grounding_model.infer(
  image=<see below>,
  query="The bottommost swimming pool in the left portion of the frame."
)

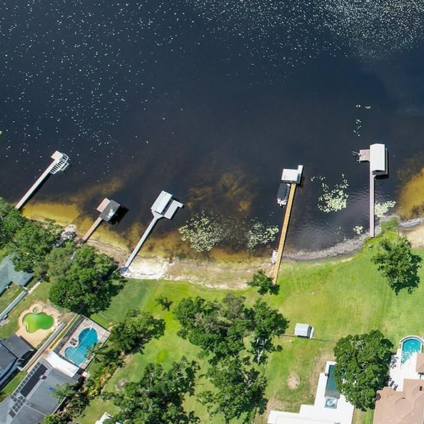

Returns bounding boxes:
[62,326,99,365]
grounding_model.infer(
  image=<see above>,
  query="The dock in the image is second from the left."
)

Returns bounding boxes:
[80,196,131,243]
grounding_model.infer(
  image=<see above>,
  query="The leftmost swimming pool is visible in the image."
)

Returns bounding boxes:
[21,307,55,334]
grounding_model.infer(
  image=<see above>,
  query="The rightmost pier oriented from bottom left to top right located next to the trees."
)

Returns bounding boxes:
[123,191,185,271]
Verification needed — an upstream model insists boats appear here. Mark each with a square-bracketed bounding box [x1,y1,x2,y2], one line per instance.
[277,183,290,209]
[271,251,277,263]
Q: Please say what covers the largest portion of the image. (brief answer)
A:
water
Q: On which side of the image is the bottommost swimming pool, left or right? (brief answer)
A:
right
